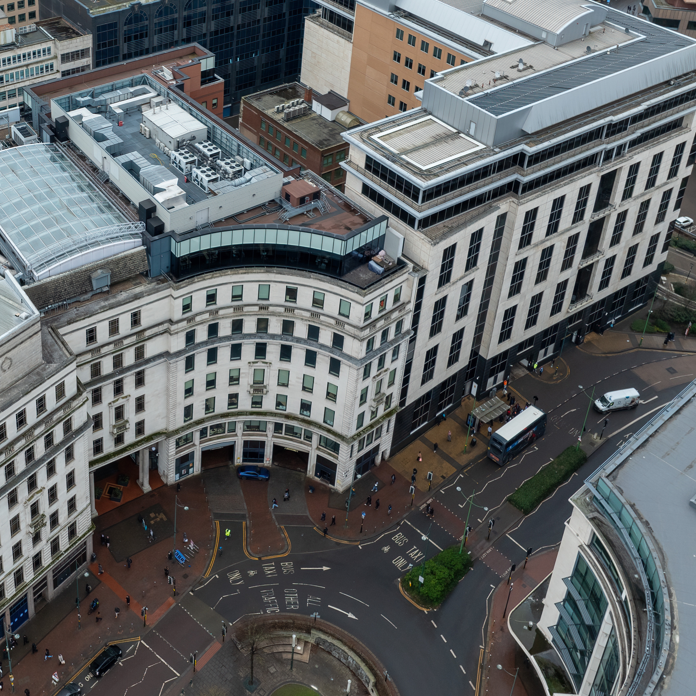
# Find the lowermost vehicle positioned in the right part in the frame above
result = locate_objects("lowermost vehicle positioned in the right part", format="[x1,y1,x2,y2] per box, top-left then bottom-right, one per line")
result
[486,408,549,464]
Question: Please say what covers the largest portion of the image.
buildings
